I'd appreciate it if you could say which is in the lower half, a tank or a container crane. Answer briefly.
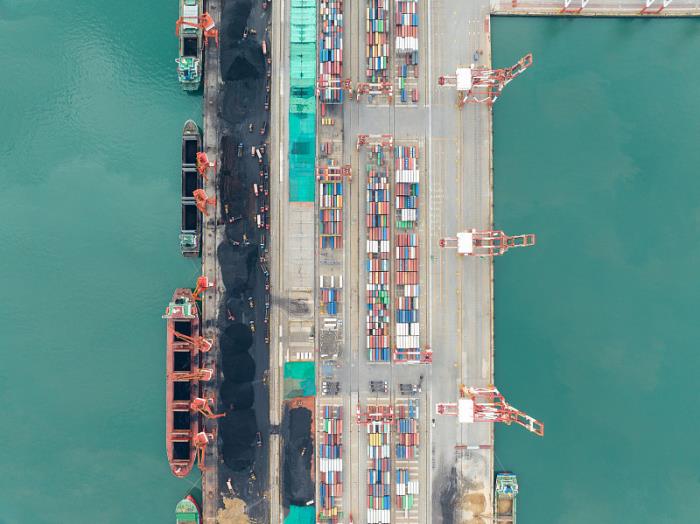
container crane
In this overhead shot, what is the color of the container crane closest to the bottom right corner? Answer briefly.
white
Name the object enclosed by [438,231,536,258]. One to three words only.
container crane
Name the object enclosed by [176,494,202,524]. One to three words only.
ship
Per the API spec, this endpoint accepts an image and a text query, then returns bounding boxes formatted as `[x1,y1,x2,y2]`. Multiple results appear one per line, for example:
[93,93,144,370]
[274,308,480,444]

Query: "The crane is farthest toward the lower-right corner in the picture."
[438,382,543,436]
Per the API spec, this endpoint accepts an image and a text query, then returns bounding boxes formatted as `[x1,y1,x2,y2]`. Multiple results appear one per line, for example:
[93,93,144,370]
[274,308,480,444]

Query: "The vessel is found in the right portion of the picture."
[494,471,518,524]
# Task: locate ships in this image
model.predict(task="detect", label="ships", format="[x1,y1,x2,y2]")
[162,289,202,477]
[180,120,202,258]
[494,471,518,524]
[176,494,202,524]
[176,0,202,93]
